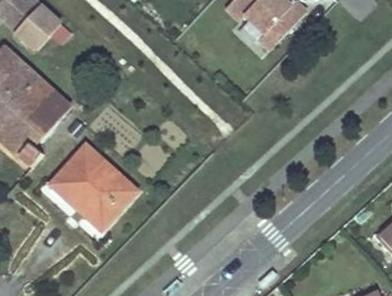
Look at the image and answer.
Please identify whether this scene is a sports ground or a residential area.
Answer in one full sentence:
This image shows a residential area.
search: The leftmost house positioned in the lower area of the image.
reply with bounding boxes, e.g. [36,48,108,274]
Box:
[48,138,142,240]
